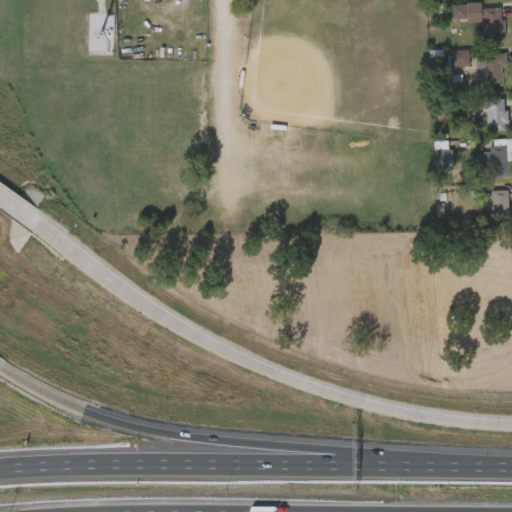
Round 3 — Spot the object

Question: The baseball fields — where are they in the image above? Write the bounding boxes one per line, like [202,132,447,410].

[244,0,432,132]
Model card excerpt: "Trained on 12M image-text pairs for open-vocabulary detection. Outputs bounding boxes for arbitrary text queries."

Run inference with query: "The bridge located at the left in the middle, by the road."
[0,182,94,253]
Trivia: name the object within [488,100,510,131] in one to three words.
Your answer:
house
